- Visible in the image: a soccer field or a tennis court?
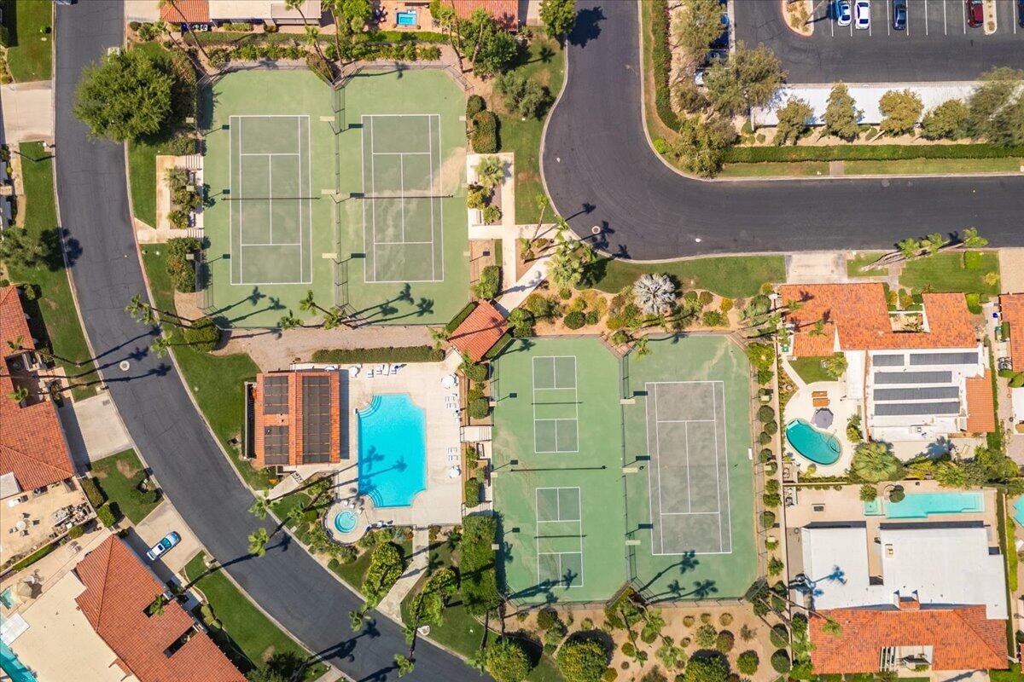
tennis court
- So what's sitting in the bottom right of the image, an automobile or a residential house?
residential house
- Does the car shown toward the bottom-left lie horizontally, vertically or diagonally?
diagonally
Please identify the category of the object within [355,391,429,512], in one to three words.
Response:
swimming pool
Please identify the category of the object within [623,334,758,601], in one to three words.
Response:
tennis court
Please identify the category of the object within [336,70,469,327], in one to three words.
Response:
tennis court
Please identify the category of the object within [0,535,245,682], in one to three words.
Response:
house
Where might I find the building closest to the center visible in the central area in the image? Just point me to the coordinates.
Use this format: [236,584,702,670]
[448,300,508,361]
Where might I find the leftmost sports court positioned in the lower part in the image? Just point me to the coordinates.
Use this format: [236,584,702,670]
[492,338,629,605]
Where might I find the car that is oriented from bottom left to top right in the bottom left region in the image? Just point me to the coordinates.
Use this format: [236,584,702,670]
[144,532,180,564]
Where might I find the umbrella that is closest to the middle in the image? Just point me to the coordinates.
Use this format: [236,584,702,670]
[439,372,457,390]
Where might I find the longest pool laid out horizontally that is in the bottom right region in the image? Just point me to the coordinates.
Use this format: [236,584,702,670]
[883,490,987,522]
